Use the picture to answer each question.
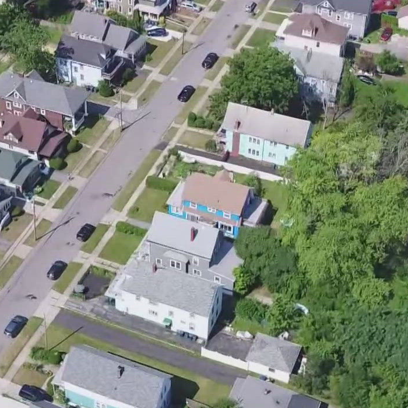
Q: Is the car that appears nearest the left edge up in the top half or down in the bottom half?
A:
bottom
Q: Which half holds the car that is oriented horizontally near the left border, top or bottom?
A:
bottom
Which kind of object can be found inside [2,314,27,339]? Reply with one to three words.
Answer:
car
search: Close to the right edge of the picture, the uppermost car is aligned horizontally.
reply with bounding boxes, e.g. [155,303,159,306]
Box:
[374,7,398,20]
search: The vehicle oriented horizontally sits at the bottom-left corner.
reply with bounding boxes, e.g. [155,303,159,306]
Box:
[14,383,53,405]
